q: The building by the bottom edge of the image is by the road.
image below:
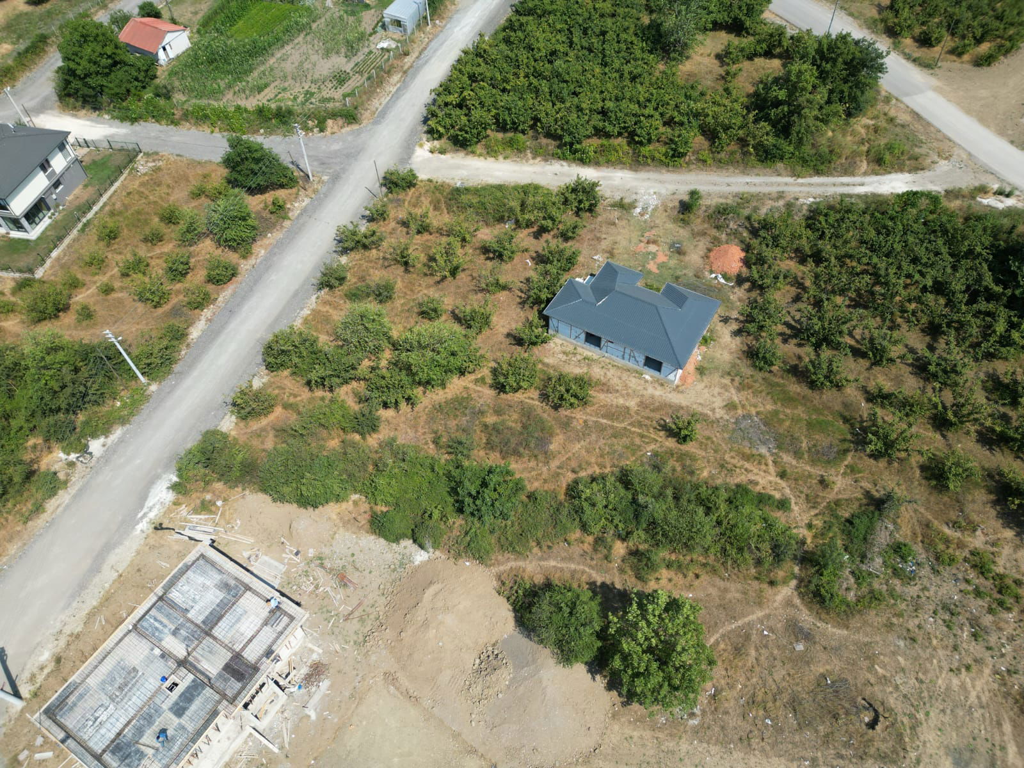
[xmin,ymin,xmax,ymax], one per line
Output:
[29,537,325,768]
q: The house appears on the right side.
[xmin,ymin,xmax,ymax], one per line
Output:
[543,259,718,385]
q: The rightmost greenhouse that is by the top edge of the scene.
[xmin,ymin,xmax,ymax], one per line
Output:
[382,0,441,36]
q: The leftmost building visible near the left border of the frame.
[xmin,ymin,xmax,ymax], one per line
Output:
[0,117,84,240]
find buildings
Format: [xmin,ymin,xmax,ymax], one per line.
[0,117,84,240]
[382,0,441,36]
[120,14,194,67]
[543,259,718,385]
[29,537,325,768]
